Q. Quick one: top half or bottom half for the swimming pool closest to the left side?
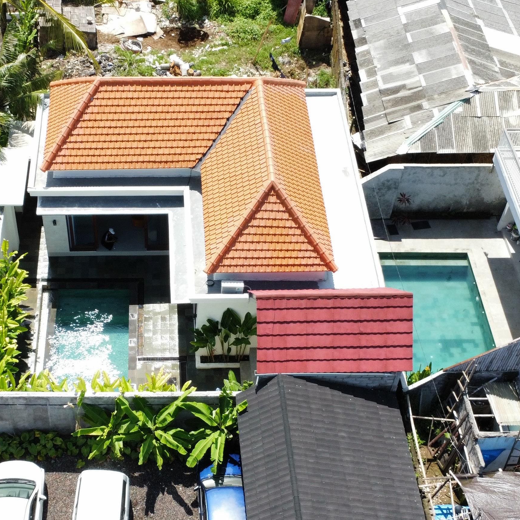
bottom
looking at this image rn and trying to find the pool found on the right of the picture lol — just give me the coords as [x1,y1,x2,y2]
[371,242,519,406]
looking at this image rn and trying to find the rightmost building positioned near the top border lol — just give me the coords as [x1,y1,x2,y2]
[344,0,520,185]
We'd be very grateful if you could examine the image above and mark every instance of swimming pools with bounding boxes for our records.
[38,284,144,392]
[371,242,519,406]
